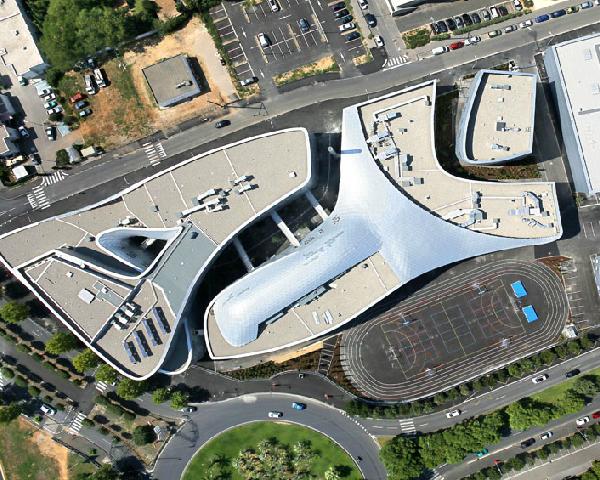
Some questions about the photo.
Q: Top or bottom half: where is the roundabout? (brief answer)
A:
bottom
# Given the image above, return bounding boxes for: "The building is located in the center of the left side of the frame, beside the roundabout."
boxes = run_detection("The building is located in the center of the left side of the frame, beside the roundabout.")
[0,128,309,379]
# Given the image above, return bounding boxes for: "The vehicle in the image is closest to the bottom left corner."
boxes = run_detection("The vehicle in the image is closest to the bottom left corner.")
[40,403,56,415]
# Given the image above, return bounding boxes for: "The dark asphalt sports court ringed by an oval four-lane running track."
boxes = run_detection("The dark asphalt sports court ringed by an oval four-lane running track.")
[342,257,570,401]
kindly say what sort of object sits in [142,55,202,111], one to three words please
building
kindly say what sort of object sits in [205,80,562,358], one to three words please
building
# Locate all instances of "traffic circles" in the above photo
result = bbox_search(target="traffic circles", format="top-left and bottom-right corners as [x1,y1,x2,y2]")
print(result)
[151,394,392,480]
